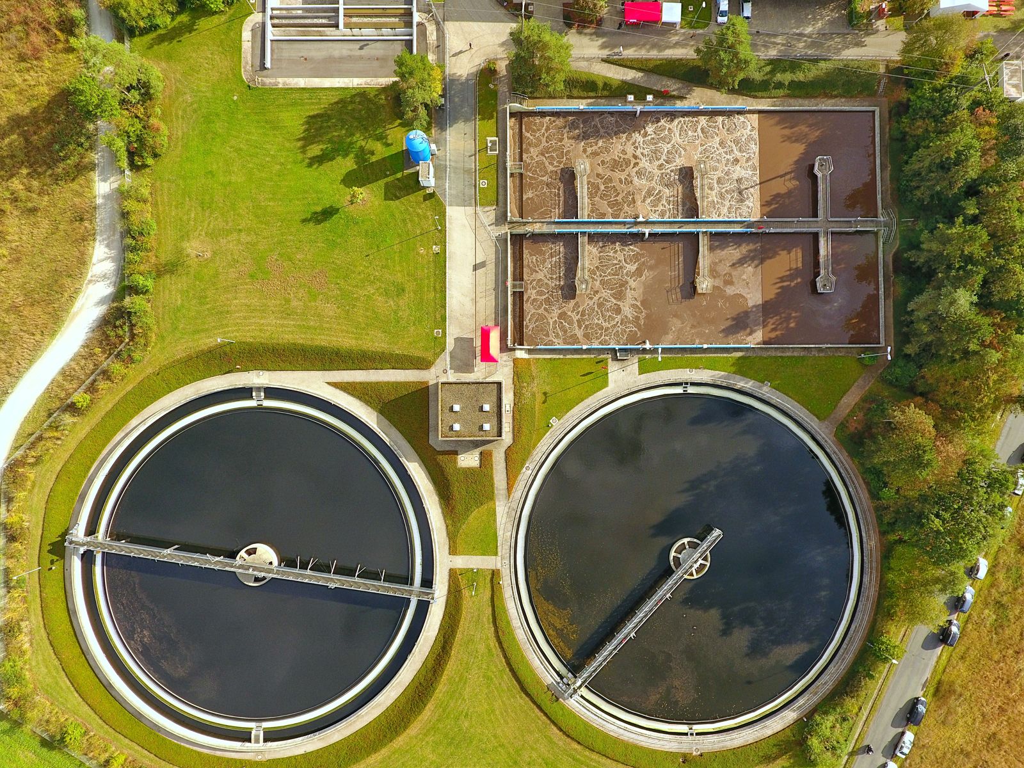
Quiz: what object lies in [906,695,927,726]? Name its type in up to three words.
car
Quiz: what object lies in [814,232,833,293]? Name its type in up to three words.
pier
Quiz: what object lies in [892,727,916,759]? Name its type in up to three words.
car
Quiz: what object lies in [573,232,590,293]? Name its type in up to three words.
pier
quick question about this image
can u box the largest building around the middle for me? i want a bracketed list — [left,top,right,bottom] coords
[440,378,504,440]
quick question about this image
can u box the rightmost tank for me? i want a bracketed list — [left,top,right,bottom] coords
[499,370,881,752]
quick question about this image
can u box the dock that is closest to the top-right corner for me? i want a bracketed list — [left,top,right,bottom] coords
[812,156,832,221]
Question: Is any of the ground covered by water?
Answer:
Yes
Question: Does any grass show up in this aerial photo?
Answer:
Yes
